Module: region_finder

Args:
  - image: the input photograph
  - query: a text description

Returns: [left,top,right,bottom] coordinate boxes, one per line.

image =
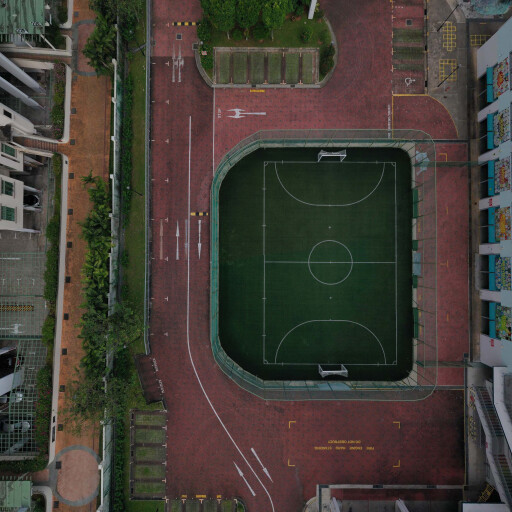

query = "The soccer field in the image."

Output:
[212,142,416,388]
